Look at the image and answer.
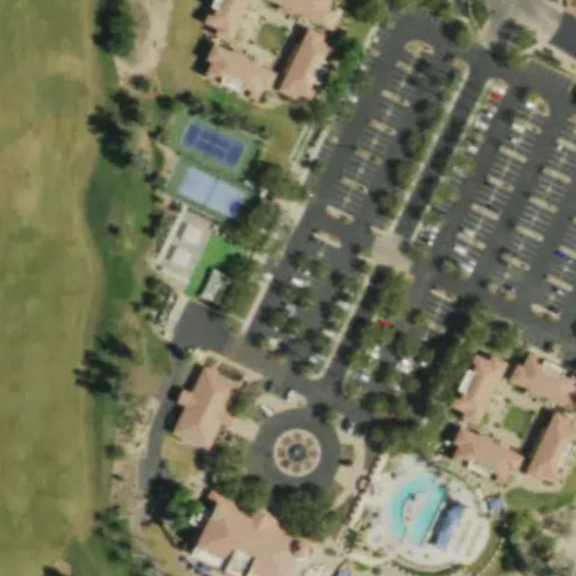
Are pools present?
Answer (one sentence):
Yes, a pool appears in the view.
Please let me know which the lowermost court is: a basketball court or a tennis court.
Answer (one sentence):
I'd say the lowermost court is a tennis court.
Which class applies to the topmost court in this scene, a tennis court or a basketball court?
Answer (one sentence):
It looks like the topmost court is a tennis court.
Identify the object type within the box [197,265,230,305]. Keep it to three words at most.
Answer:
building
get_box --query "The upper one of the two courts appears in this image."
[169,111,262,173]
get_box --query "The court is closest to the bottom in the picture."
[164,147,247,223]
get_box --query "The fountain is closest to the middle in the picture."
[289,443,306,462]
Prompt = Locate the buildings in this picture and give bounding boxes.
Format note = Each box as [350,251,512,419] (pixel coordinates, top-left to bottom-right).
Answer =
[279,30,338,104]
[264,0,337,28]
[173,367,248,450]
[190,491,302,576]
[510,352,576,411]
[203,45,277,104]
[526,412,576,487]
[449,427,524,486]
[203,0,254,44]
[197,265,230,305]
[450,353,509,426]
